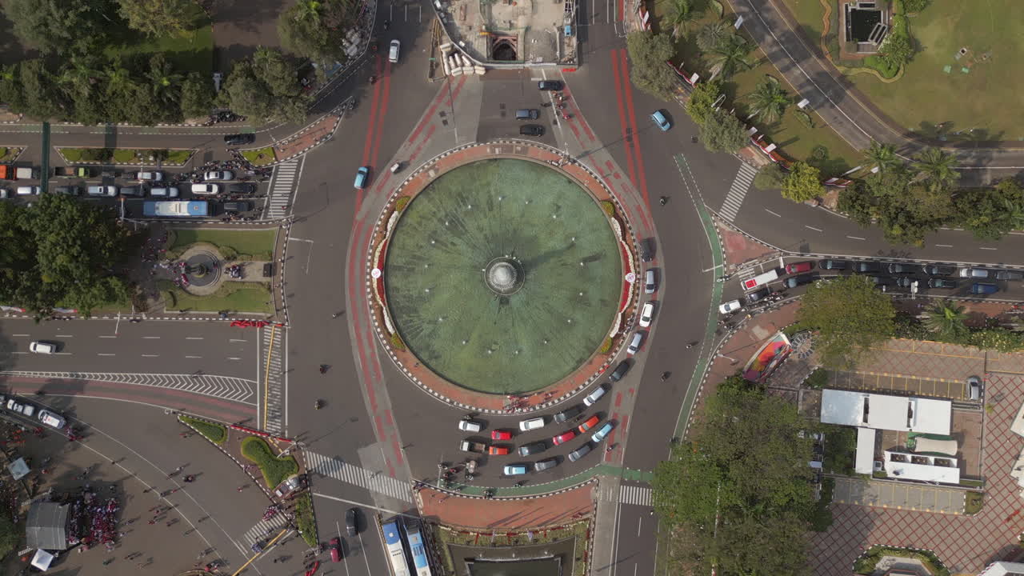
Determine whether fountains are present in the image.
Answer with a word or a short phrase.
Yes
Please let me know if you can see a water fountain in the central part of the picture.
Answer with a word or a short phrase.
Yes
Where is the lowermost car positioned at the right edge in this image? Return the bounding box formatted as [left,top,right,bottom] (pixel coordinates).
[966,376,980,400]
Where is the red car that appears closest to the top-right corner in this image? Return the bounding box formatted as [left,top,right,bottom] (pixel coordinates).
[785,262,811,274]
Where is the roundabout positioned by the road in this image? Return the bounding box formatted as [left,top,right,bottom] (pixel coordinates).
[367,139,641,413]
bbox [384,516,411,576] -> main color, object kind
white bus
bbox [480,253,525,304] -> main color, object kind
gray fountain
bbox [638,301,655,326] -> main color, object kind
white car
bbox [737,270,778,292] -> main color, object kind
white vehicle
